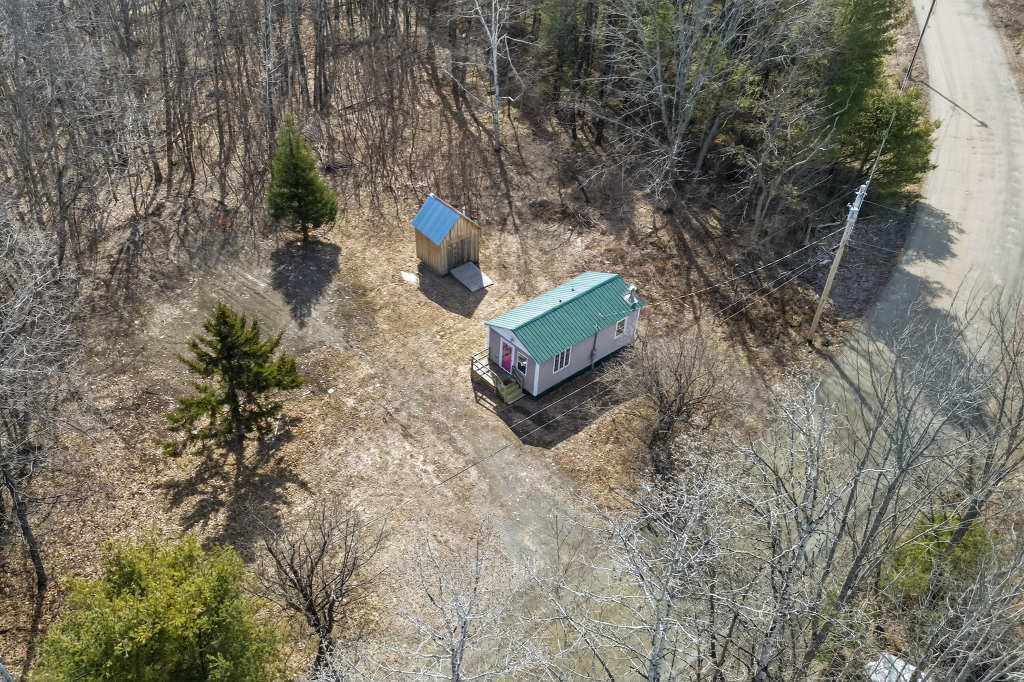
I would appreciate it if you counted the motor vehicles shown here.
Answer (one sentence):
The photo contains no motor vehicles.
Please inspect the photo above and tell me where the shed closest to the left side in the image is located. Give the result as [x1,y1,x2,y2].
[411,193,481,277]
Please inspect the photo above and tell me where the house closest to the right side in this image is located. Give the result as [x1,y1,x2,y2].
[484,271,645,400]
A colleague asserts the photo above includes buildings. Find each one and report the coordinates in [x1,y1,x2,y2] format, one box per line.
[484,271,645,400]
[411,193,481,277]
